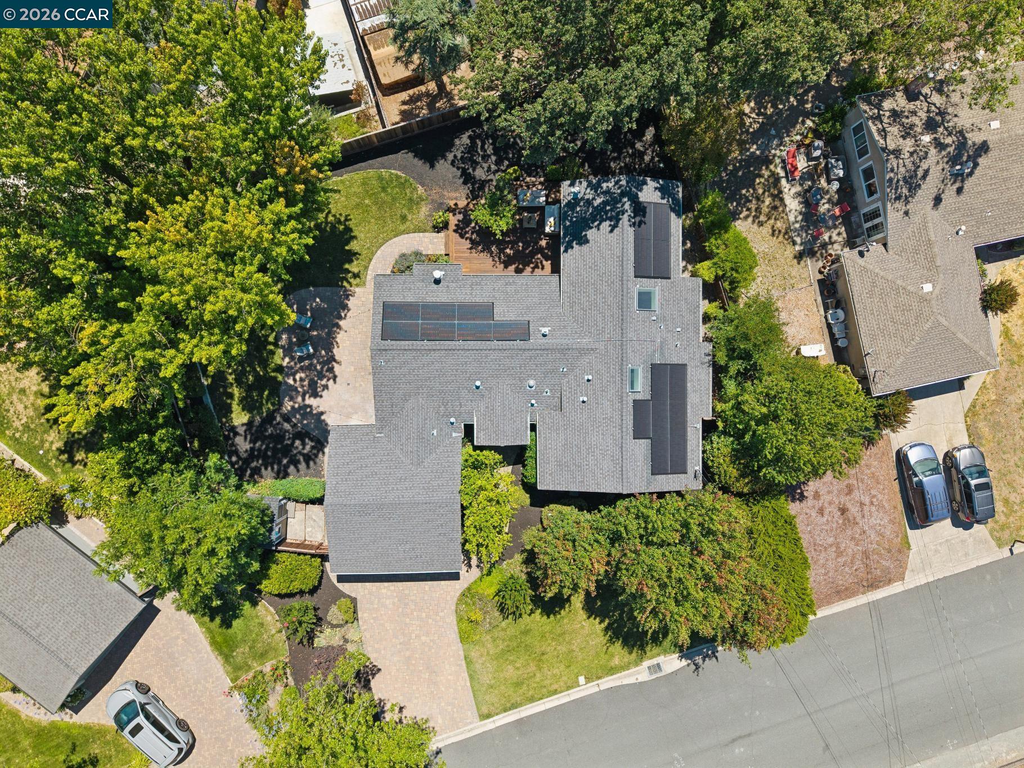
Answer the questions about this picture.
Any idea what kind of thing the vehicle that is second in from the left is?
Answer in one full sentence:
In the photo, the vehicle that is second in from the left shows up as a car.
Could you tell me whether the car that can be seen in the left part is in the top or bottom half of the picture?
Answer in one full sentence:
It is in the bottom half that the car that can be seen in the left part appears.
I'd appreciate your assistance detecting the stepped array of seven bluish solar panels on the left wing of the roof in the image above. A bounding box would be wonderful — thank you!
[382,302,530,342]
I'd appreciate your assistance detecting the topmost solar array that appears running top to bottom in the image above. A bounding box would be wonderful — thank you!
[632,202,670,279]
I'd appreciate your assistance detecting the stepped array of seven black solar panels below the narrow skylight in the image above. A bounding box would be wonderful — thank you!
[631,363,688,475]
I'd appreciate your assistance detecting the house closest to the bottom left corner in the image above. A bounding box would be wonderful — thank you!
[0,519,154,714]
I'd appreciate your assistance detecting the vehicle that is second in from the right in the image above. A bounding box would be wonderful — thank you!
[897,439,956,529]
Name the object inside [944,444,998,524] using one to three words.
car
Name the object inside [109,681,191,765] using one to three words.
car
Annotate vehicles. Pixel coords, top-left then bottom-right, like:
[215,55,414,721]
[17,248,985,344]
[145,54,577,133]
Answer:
[897,439,956,529]
[944,444,998,524]
[109,681,191,765]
